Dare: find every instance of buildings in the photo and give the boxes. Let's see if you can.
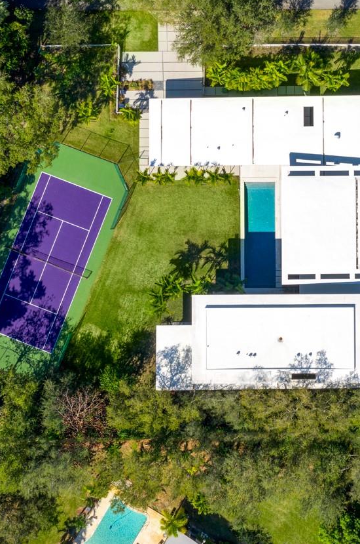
[149,97,360,390]
[165,529,214,544]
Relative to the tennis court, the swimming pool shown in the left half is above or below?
below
